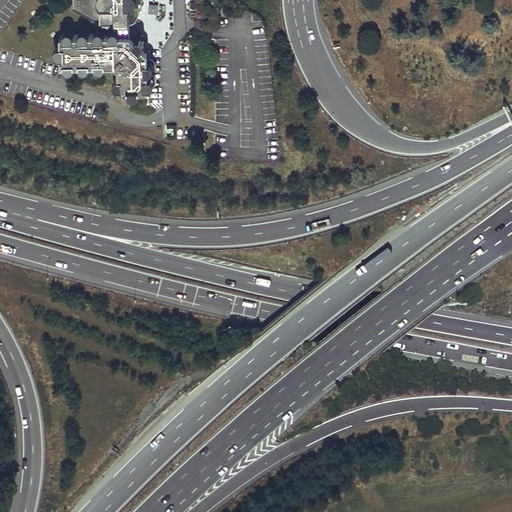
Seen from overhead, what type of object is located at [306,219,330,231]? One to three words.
vehicle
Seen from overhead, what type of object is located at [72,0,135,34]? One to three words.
building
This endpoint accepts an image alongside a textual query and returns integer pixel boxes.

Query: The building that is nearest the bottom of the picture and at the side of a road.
[51,36,153,106]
